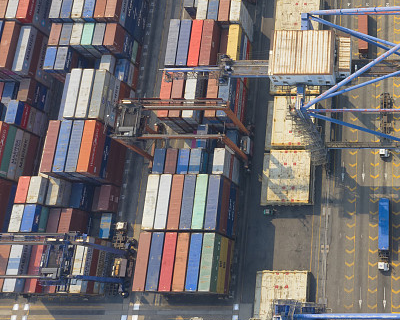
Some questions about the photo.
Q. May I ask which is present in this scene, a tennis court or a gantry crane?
gantry crane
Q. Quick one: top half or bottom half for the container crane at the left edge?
bottom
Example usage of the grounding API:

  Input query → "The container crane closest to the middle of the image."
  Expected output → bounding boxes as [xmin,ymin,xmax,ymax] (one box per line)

[110,98,255,171]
